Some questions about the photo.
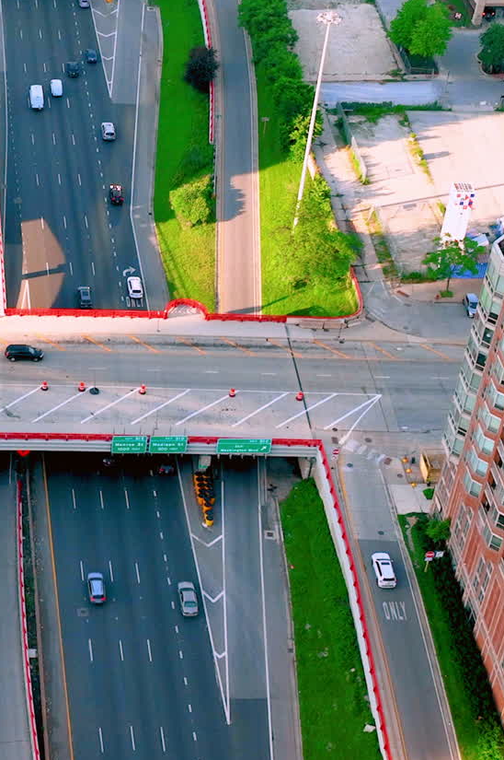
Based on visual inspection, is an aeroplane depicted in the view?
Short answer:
No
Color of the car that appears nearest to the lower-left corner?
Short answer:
blue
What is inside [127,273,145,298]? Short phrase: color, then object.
white car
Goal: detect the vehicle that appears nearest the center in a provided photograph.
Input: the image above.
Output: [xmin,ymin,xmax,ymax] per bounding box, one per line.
[155,453,176,482]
